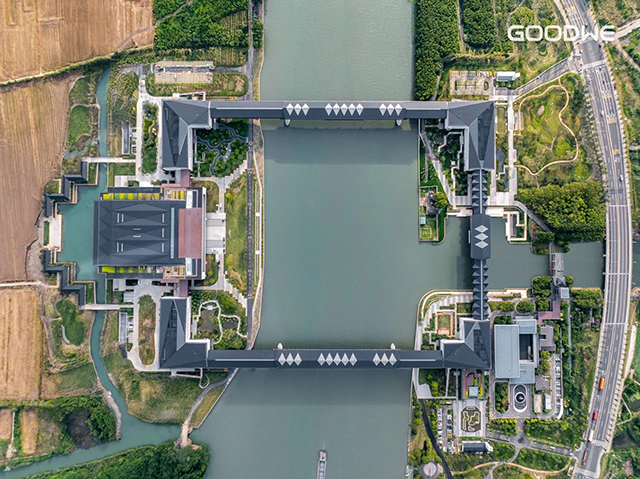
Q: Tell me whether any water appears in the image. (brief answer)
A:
Yes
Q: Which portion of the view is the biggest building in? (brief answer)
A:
left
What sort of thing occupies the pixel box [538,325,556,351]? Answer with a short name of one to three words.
house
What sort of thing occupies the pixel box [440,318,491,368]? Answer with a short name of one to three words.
building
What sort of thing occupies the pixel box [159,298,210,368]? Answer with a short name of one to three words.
building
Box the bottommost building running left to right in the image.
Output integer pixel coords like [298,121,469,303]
[461,438,493,454]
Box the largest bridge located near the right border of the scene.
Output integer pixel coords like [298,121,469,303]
[601,204,632,324]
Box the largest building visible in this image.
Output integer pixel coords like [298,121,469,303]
[94,187,210,279]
